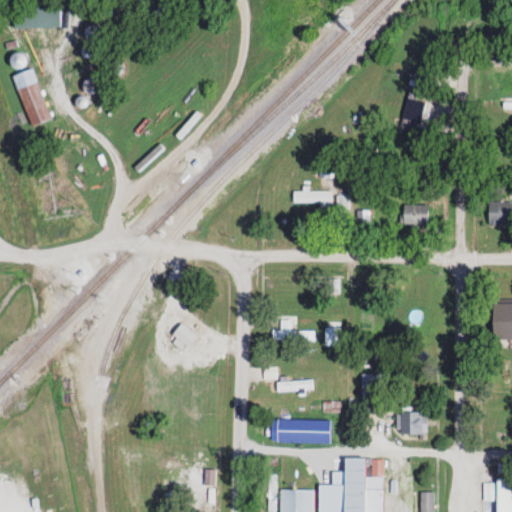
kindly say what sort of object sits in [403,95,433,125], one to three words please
house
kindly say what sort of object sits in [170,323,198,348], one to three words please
building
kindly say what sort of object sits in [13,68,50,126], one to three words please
barn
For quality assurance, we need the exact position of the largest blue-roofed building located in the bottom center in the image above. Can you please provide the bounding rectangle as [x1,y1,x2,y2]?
[272,419,333,445]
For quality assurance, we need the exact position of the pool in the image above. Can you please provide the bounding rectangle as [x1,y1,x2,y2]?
[408,308,424,327]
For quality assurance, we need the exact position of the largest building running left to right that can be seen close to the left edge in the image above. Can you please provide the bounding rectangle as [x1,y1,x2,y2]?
[12,7,70,28]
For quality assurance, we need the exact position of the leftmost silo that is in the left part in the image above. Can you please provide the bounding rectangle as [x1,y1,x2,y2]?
[9,51,29,71]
